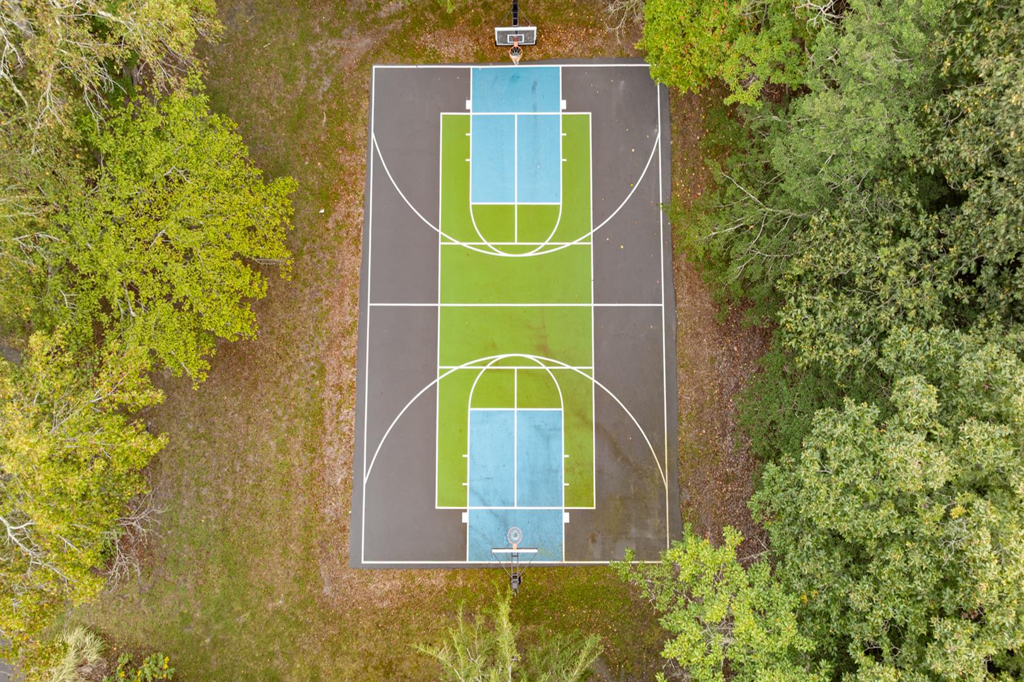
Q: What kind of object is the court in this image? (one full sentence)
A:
Specifically, the court is a basketball court.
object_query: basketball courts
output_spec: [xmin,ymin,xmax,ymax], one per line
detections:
[349,57,682,570]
